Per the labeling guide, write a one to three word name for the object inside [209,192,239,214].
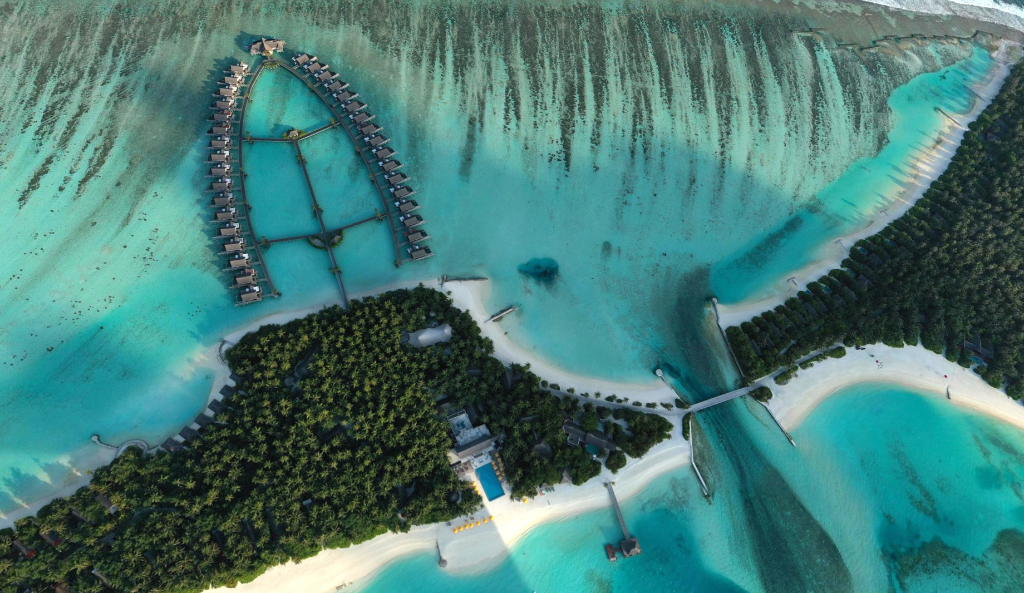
house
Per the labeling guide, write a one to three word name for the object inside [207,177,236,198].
house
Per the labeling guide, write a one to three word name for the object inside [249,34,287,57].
building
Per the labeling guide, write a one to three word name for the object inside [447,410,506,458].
building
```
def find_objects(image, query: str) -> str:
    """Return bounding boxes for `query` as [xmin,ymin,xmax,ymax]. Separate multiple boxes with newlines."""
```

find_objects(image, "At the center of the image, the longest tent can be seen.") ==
[408,323,452,348]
